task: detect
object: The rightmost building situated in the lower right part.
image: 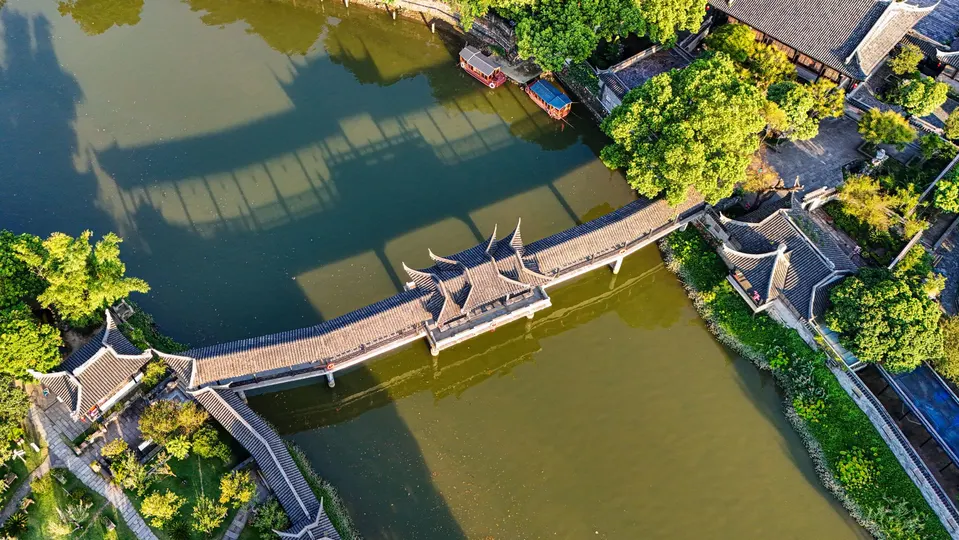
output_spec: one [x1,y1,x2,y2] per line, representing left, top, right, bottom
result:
[869,341,959,490]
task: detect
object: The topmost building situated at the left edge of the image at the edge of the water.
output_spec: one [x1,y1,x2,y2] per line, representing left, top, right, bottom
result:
[23,313,164,431]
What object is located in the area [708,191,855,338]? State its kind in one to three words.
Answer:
building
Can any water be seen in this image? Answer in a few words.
Yes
